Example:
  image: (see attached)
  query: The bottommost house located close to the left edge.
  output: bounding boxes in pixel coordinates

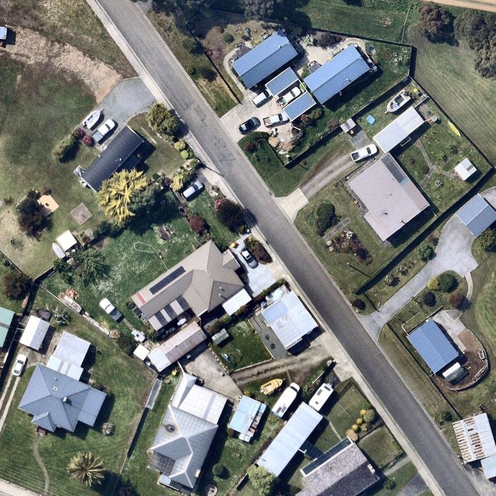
[17,364,106,432]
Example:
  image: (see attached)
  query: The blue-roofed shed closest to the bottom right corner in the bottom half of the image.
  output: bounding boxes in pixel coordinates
[407,320,458,374]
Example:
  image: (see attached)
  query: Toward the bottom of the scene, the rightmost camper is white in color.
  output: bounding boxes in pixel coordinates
[309,381,333,410]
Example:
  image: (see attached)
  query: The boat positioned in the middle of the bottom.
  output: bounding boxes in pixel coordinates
[261,380,283,396]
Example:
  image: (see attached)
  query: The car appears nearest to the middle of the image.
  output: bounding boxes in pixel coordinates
[239,246,259,270]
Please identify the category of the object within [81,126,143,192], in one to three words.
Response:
house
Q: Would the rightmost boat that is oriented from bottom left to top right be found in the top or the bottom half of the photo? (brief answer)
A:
top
